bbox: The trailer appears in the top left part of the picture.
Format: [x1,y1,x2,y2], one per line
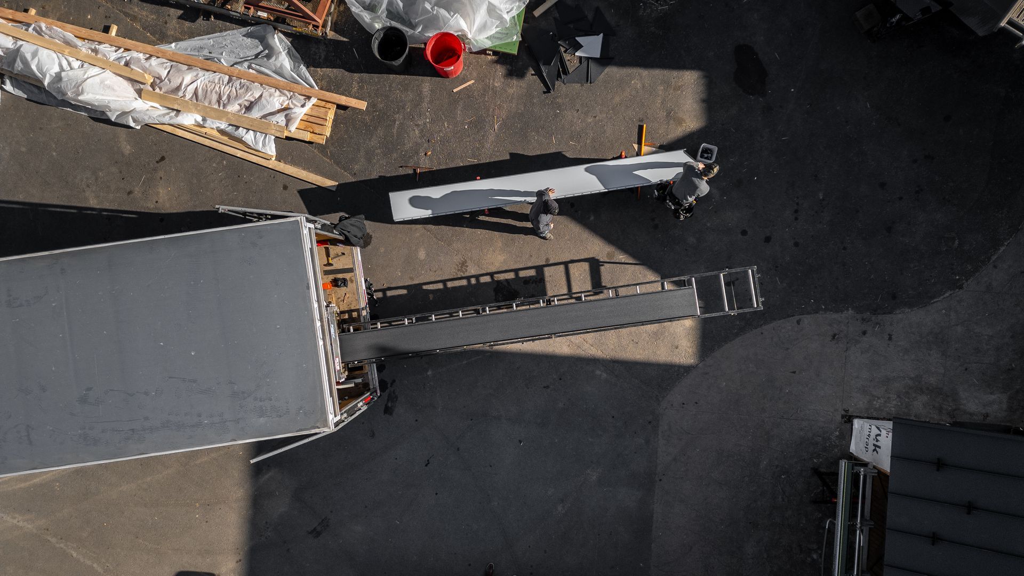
[148,0,337,40]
